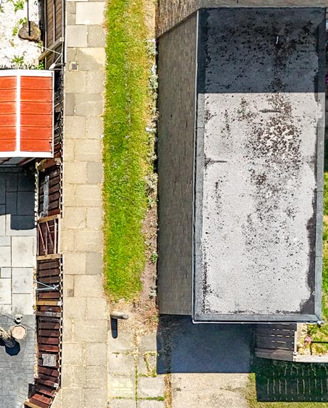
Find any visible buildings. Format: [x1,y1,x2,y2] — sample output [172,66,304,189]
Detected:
[158,8,327,327]
[0,67,54,165]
